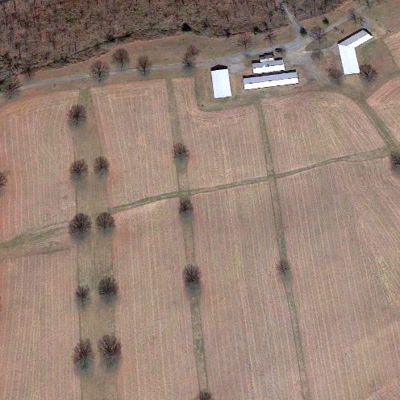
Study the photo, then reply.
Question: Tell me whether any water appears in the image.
No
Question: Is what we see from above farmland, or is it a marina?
farmland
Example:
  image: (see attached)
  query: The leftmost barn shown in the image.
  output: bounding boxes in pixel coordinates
[211,68,231,101]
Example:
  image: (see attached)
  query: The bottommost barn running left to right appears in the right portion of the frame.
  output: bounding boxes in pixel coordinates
[243,71,299,92]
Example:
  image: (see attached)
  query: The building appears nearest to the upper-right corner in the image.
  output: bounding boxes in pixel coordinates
[338,29,372,78]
